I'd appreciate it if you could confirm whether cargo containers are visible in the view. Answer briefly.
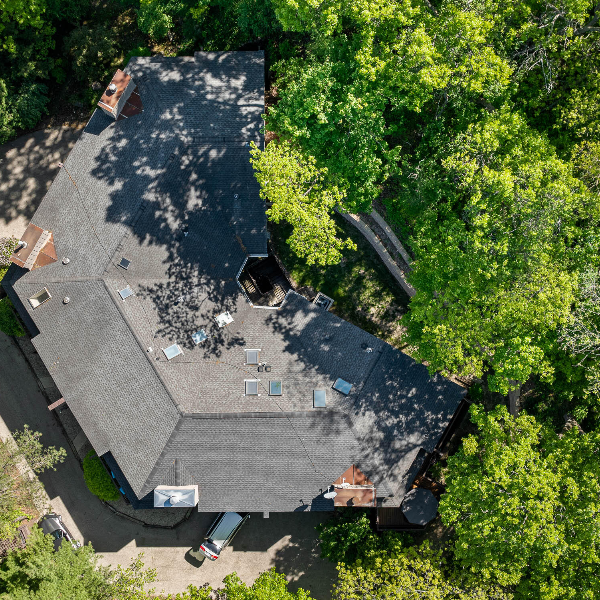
No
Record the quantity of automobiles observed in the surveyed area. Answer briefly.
2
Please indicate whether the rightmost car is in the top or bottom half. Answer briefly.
bottom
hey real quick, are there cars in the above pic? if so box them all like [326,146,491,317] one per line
[39,512,84,561]
[198,512,250,562]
